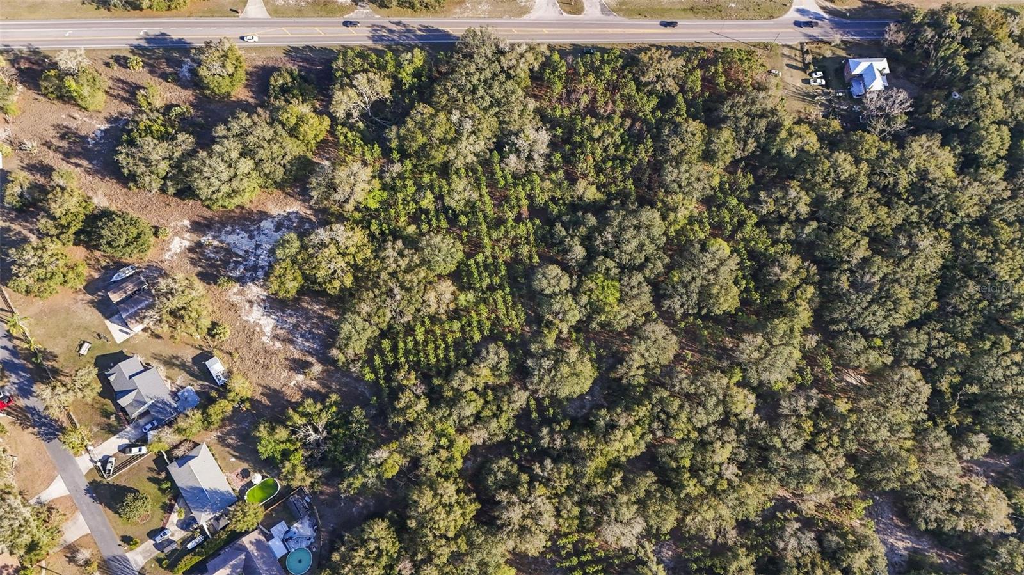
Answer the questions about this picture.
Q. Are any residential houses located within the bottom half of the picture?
Yes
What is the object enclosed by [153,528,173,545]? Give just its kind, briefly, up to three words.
car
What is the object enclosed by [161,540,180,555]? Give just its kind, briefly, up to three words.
car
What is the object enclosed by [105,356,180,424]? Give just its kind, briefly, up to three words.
house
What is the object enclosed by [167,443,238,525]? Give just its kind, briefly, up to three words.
house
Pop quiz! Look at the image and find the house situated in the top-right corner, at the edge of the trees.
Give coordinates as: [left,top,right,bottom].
[846,58,890,95]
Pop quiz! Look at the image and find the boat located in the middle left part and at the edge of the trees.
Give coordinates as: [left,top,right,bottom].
[110,265,136,280]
